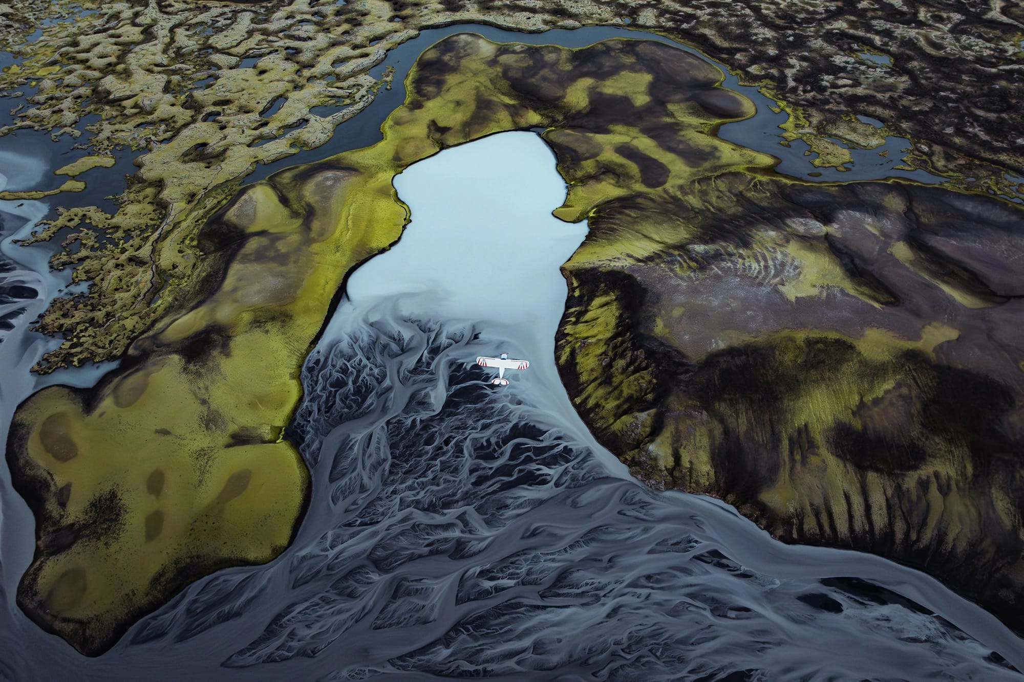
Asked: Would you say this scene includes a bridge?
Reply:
No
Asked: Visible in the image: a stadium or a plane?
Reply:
plane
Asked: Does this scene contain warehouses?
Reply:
No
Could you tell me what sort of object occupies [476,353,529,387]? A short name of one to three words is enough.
airplane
